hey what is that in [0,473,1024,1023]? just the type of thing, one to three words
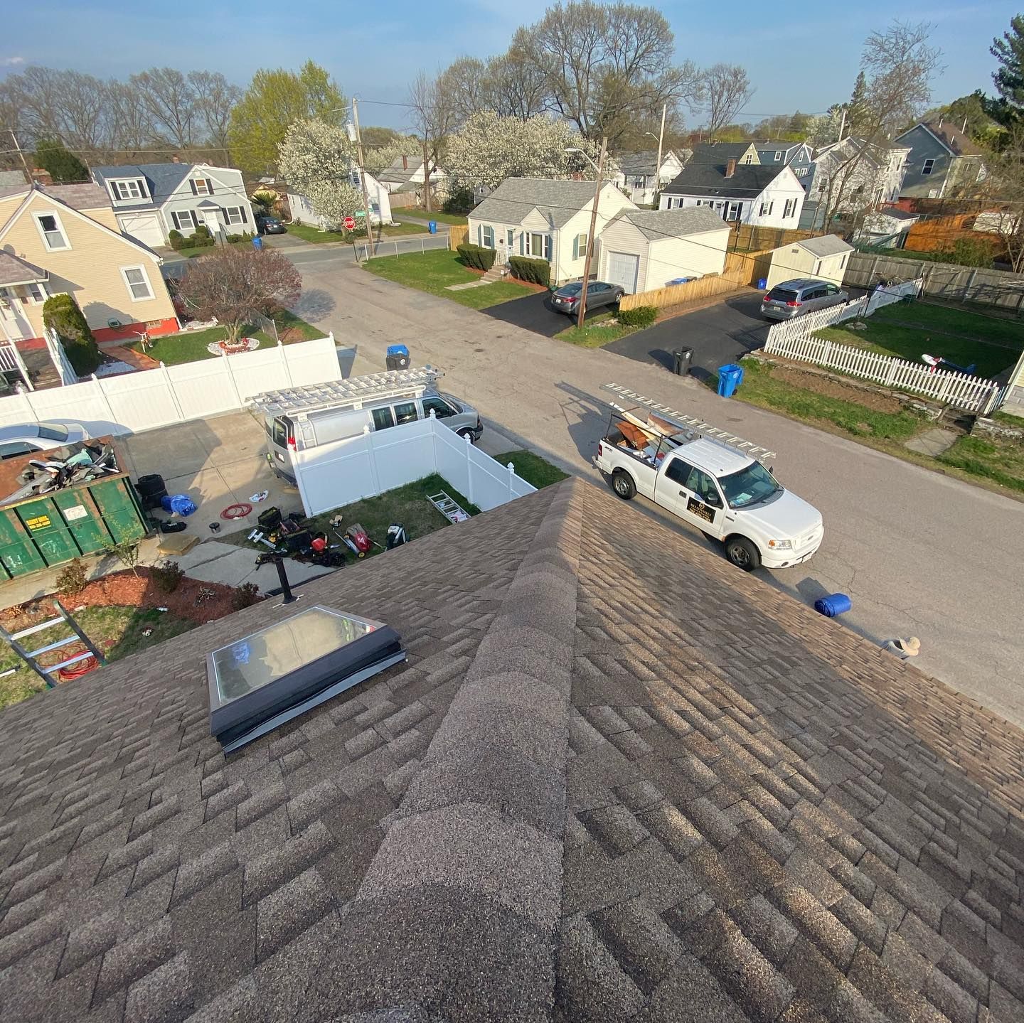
house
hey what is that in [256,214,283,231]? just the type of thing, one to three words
car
